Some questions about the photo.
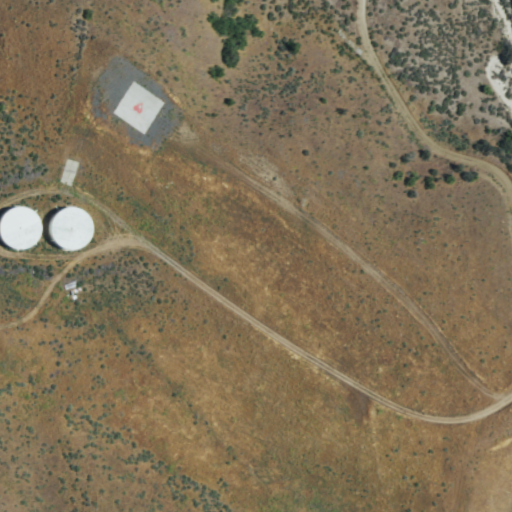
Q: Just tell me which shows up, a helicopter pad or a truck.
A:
helicopter pad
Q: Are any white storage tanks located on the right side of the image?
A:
No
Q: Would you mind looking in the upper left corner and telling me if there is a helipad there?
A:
Yes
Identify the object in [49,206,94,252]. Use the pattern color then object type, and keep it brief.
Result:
white storage tank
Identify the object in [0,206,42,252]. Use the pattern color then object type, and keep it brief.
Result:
white storage tank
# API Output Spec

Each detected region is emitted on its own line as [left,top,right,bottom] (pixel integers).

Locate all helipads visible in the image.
[90,56,181,149]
